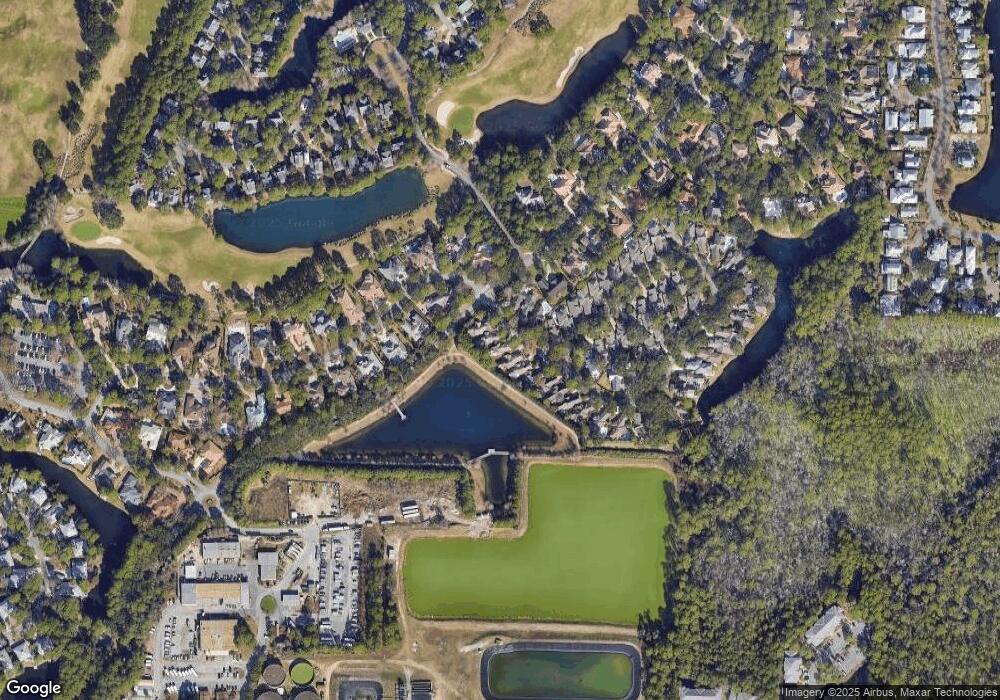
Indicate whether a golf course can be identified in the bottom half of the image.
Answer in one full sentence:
No, I see no golf course in the bottom half of the image.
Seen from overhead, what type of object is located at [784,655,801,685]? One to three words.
barn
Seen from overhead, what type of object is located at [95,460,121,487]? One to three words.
house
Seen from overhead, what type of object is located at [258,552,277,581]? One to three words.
shed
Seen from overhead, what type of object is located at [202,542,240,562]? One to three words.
building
